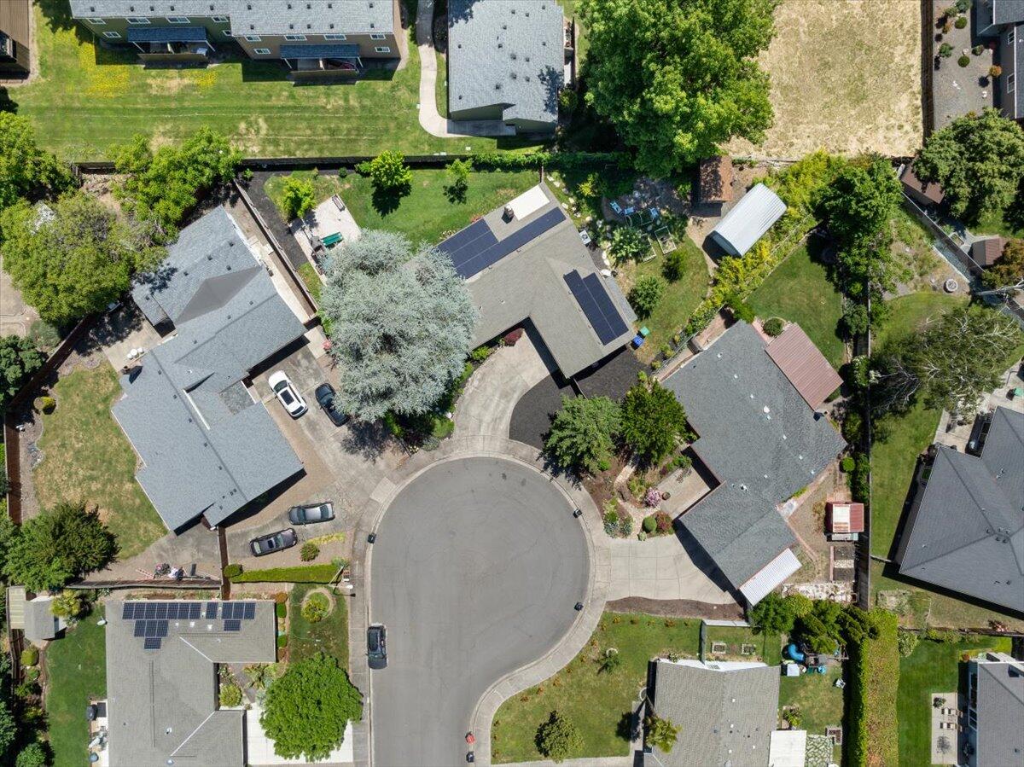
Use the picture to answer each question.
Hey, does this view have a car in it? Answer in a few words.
Yes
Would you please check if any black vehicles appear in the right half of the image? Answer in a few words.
No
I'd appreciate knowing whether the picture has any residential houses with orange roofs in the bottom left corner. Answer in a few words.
No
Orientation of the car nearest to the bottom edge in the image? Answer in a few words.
vertically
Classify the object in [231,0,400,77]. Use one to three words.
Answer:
building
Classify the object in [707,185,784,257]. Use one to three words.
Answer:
shed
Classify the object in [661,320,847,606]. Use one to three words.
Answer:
house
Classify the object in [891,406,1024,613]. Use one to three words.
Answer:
house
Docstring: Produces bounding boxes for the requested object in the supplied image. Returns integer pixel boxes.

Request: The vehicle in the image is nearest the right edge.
[364,625,387,671]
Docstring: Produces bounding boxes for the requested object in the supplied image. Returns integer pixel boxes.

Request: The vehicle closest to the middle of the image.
[313,381,349,429]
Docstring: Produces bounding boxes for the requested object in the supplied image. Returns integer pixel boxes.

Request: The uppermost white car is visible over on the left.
[266,372,304,419]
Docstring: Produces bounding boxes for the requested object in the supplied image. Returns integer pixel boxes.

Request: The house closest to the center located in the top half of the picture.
[439,180,638,379]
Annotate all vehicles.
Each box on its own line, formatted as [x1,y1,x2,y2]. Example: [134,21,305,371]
[364,625,387,671]
[246,530,298,558]
[286,502,335,527]
[266,372,304,419]
[313,381,349,429]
